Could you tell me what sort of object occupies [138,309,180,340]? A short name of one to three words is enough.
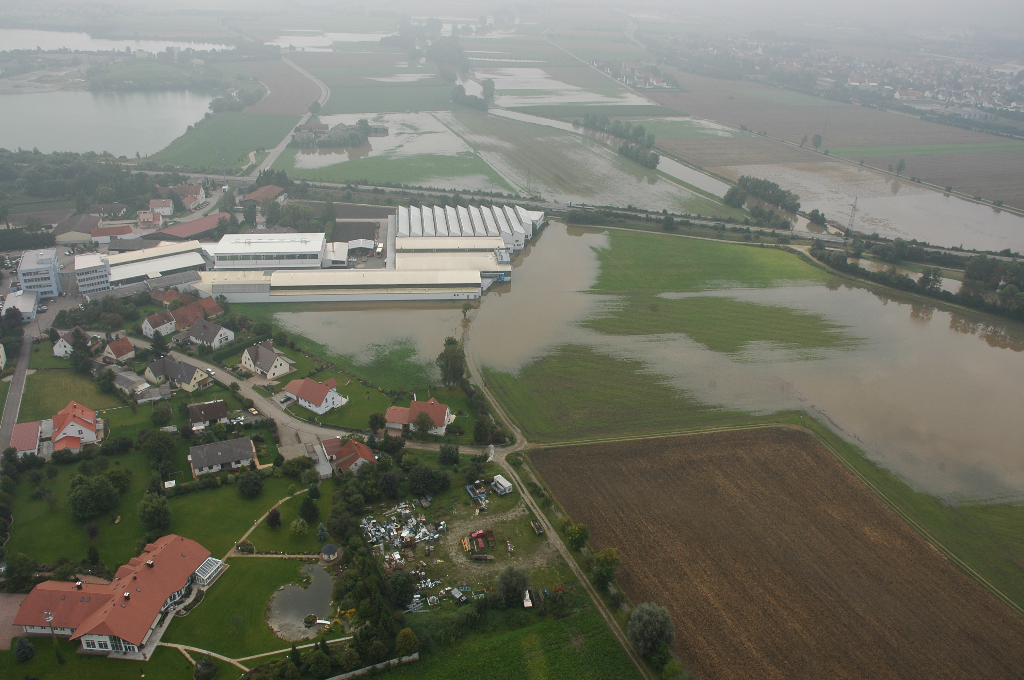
house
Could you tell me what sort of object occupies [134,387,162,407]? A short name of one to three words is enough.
shed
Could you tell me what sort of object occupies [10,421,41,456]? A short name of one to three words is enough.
building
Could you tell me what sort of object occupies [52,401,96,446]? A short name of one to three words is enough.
house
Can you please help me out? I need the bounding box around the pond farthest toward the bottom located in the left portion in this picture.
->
[267,561,333,639]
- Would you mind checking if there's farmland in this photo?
Yes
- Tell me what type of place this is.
residential area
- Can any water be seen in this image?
Yes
